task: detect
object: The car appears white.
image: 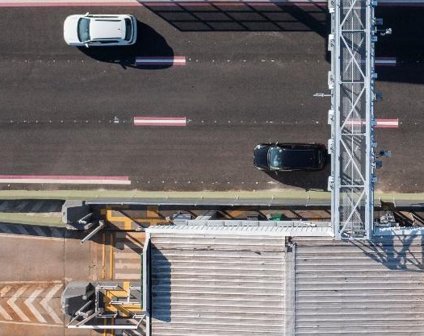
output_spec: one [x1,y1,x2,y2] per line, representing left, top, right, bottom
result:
[63,11,138,49]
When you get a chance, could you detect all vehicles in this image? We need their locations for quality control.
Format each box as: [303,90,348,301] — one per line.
[63,11,138,49]
[253,139,326,176]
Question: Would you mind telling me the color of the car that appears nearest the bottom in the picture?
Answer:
black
